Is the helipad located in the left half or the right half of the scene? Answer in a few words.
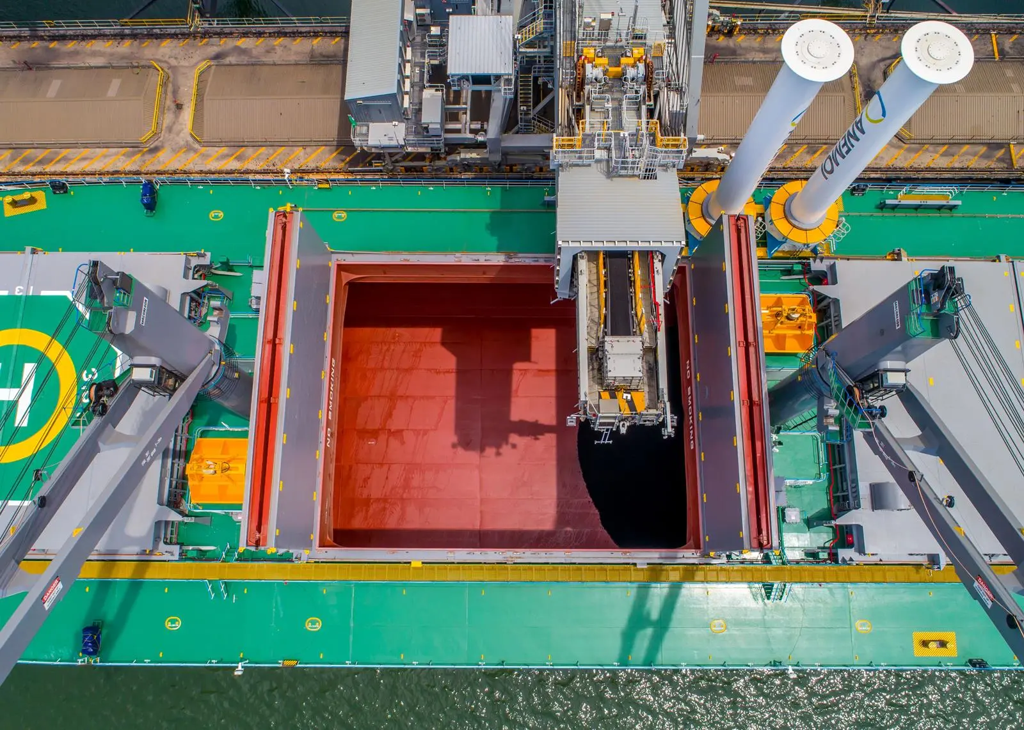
left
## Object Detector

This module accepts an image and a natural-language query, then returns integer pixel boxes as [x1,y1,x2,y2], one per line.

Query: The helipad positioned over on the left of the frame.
[0,287,128,507]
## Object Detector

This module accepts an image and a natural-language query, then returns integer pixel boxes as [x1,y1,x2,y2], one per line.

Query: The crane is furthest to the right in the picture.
[771,260,1024,635]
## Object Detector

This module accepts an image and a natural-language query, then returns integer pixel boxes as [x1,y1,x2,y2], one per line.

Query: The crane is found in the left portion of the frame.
[0,249,259,677]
